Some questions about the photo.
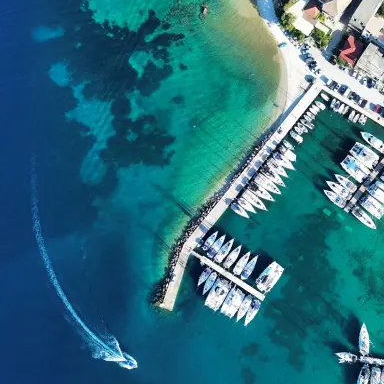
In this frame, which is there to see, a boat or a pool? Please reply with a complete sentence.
The image shows a boat.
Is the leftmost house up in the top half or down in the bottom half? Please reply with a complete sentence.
You can find the leftmost house in the top half.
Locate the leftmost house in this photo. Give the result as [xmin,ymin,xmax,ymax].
[291,0,329,39]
